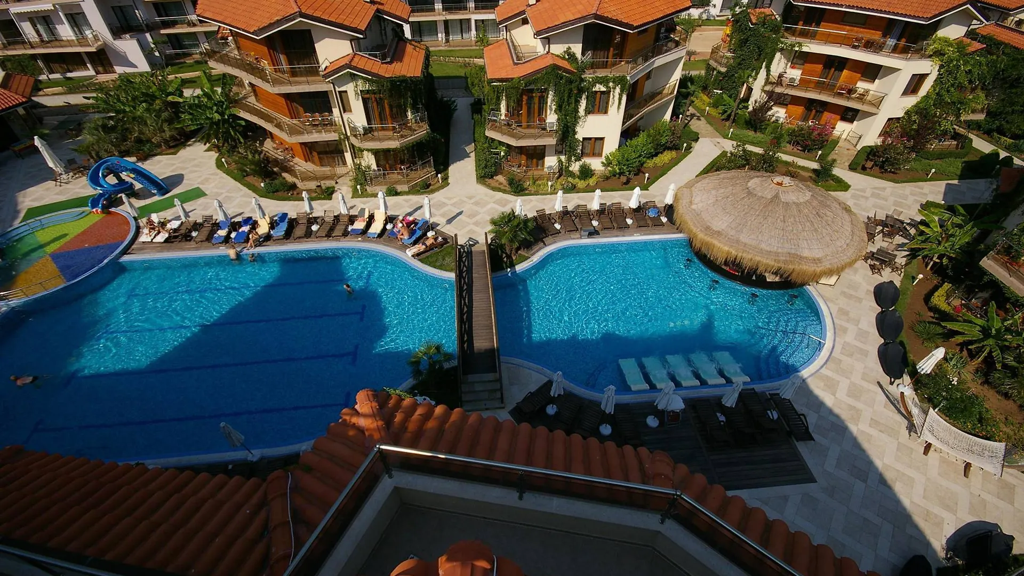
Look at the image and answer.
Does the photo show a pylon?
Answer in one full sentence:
No, I can't see a single pylon in this photo.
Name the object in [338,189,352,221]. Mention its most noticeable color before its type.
white umbrella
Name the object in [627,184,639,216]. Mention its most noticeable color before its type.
white umbrella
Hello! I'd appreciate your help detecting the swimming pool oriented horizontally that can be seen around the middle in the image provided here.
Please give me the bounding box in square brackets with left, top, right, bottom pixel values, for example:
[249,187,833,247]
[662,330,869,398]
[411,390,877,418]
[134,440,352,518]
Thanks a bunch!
[0,237,825,459]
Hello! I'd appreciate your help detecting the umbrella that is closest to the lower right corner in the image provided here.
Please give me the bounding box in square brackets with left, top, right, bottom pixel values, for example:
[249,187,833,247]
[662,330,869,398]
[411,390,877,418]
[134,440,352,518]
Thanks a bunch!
[910,349,944,384]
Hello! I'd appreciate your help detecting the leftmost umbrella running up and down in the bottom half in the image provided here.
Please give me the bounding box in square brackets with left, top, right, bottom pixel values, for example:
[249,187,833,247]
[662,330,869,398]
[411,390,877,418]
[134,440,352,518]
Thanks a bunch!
[545,371,561,404]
